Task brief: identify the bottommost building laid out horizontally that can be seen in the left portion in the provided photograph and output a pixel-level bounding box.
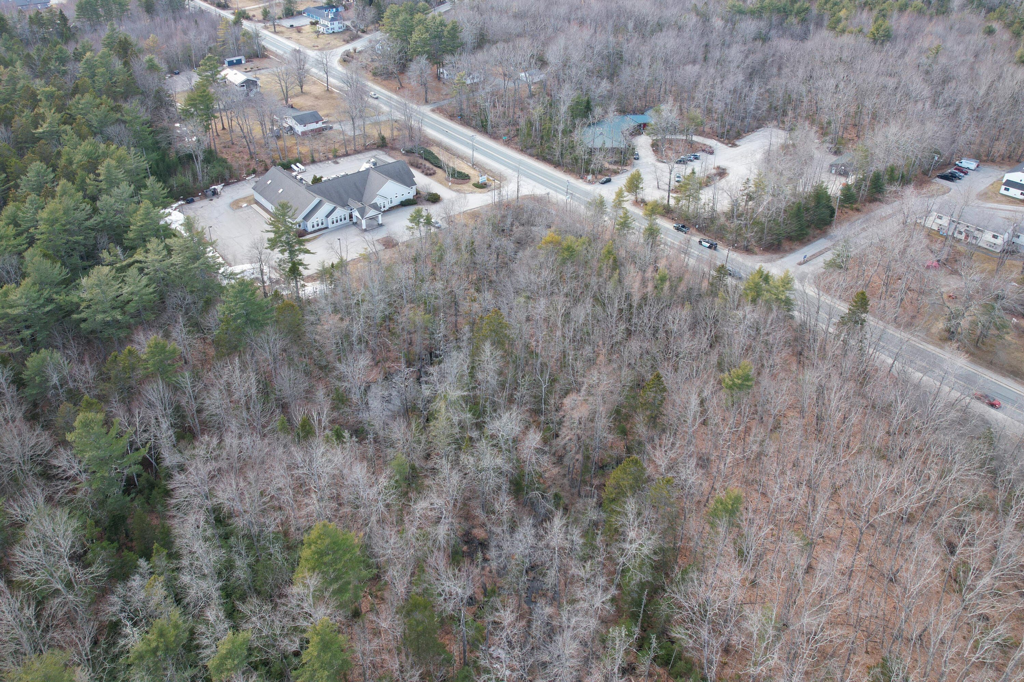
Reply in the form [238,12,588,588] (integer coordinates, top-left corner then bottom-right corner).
[250,154,420,233]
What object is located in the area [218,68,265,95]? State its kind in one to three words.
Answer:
house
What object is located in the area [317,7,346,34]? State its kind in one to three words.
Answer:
house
